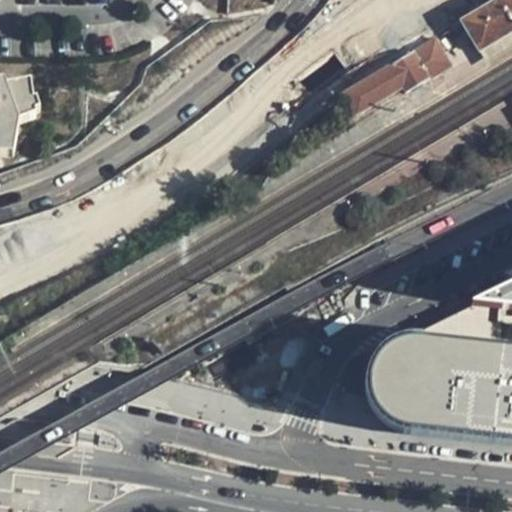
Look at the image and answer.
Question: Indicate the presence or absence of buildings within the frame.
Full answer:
Yes, there's a building here.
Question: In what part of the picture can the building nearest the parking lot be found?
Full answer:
You can find the building nearest the parking lot in the top left area of the picture.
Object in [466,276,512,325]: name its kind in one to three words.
building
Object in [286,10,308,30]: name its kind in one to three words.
car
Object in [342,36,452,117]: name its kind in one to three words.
building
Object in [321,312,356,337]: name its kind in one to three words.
truck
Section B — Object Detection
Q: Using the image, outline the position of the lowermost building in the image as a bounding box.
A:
[364,329,512,446]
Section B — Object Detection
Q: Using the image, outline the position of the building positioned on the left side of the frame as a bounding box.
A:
[0,72,42,168]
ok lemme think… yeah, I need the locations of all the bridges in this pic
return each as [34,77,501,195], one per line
[0,178,512,473]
